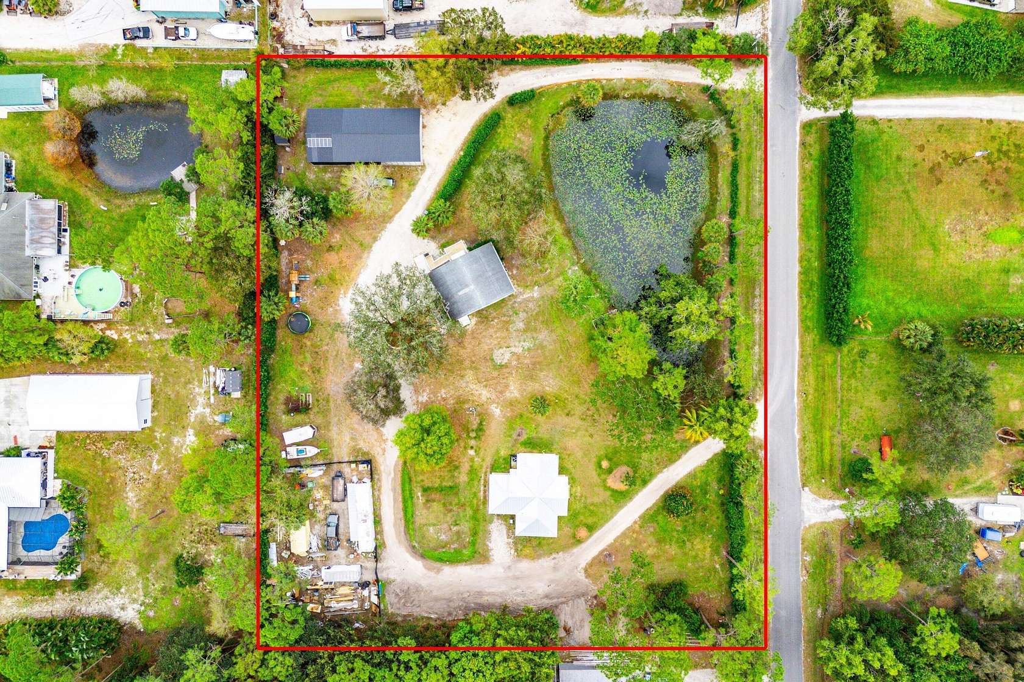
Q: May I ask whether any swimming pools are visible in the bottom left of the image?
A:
Yes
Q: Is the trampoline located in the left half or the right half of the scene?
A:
left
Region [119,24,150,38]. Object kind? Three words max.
vehicle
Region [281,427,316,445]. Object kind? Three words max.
boat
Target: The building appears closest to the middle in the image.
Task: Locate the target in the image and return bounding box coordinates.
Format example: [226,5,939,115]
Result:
[429,241,518,322]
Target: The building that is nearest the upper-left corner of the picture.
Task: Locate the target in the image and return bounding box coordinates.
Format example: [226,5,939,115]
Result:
[0,75,58,112]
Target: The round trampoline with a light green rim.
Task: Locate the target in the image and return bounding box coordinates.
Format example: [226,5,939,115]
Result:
[288,312,310,334]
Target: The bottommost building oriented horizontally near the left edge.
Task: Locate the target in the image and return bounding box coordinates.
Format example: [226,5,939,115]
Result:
[23,374,151,431]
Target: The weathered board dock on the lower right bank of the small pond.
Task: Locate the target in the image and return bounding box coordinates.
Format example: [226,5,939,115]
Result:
[170,161,201,193]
